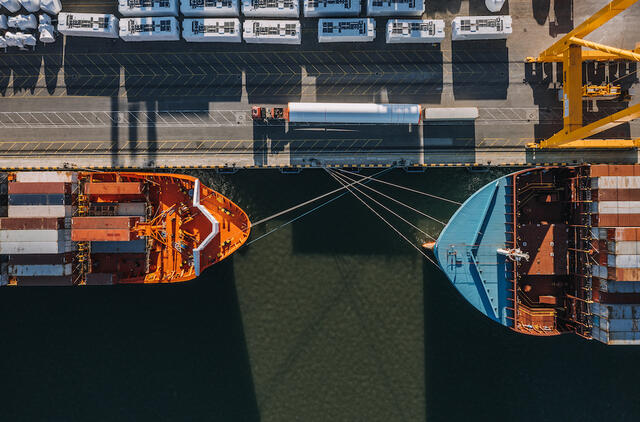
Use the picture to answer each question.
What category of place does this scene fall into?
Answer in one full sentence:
The picture captures a port.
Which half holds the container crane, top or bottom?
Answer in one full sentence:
It is in the top half that the container crane appears.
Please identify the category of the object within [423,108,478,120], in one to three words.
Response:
vehicle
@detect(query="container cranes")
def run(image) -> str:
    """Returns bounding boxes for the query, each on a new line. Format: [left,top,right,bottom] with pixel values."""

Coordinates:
[519,0,640,150]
